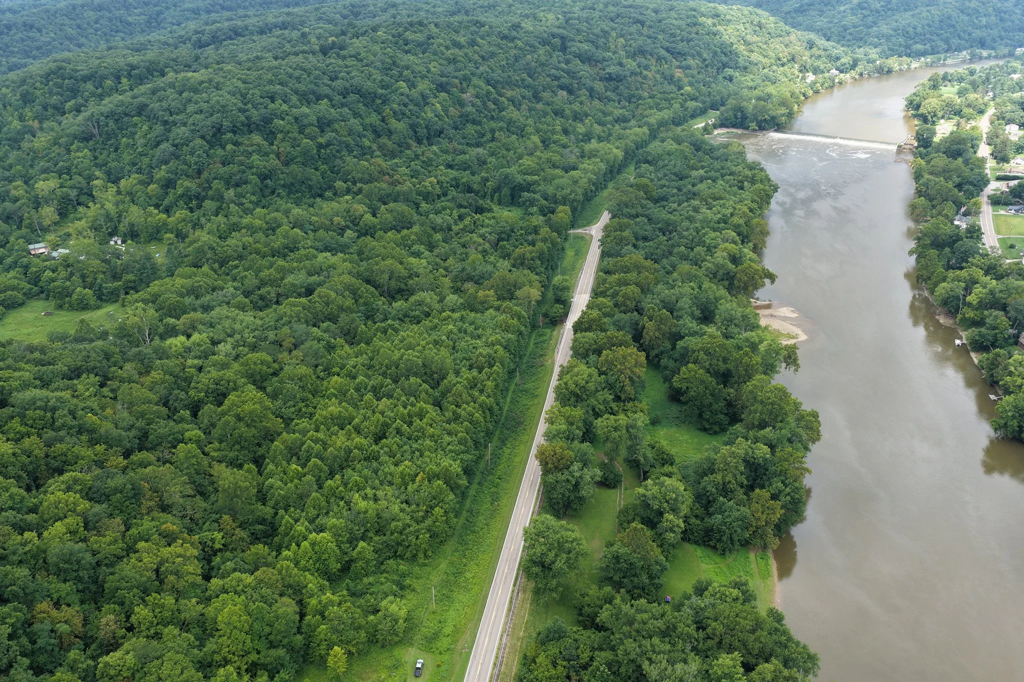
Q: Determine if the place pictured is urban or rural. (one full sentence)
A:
It looks rural.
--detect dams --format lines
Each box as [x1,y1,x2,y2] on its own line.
[757,131,908,152]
